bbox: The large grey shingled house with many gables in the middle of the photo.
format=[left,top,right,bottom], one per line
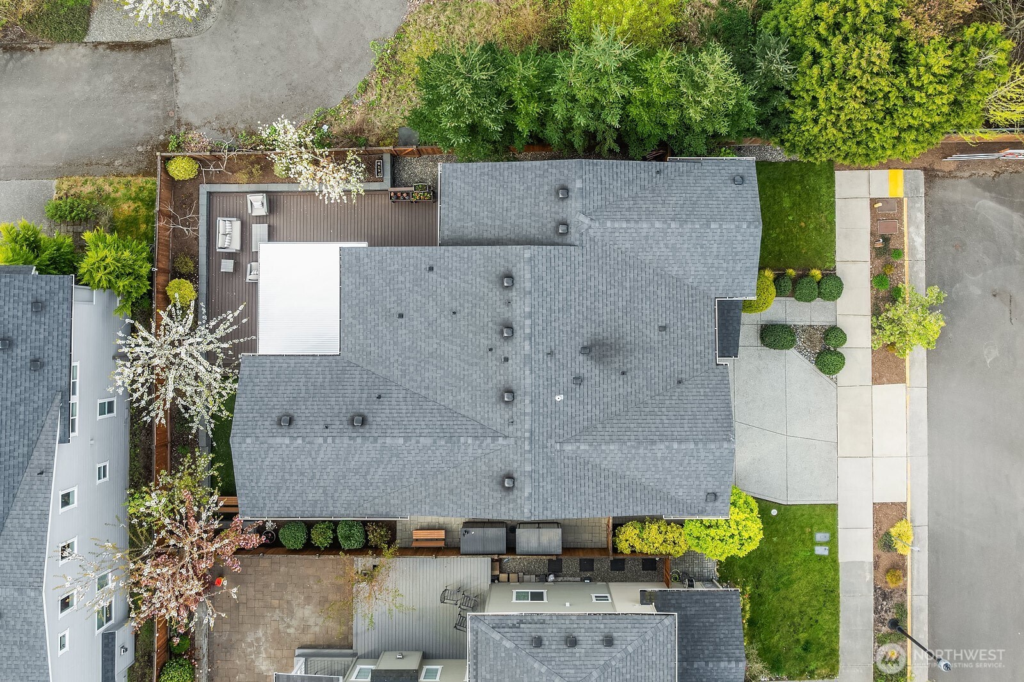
[230,155,763,526]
